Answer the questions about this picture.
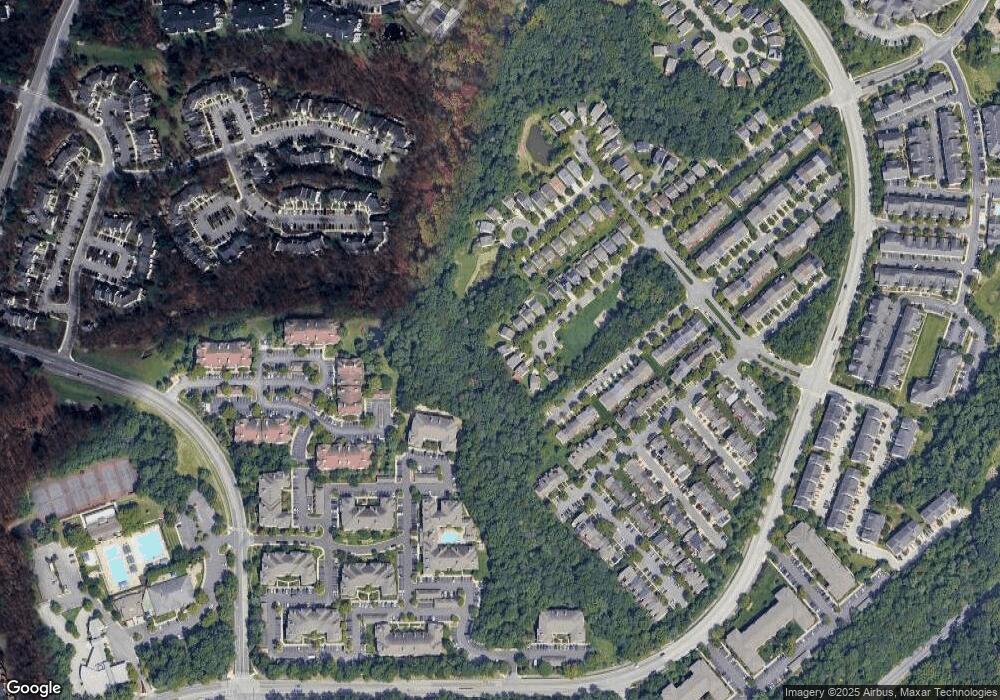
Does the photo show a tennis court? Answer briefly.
Yes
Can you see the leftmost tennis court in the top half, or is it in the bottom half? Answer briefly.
bottom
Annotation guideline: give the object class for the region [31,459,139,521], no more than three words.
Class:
tennis court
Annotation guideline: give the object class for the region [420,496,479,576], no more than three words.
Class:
building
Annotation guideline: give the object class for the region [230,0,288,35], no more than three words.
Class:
building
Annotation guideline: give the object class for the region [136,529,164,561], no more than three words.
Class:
swimming pool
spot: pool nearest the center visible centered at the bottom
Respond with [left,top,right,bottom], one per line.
[440,529,461,544]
